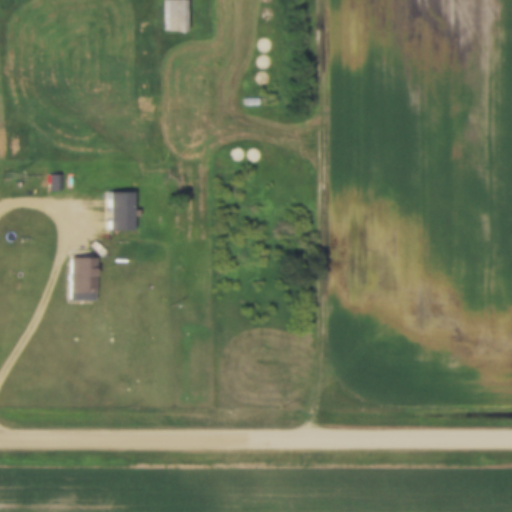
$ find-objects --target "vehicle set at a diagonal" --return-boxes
[92,242,106,258]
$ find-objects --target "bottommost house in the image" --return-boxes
[70,256,102,300]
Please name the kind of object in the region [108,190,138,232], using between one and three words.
shed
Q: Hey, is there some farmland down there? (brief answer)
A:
Yes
